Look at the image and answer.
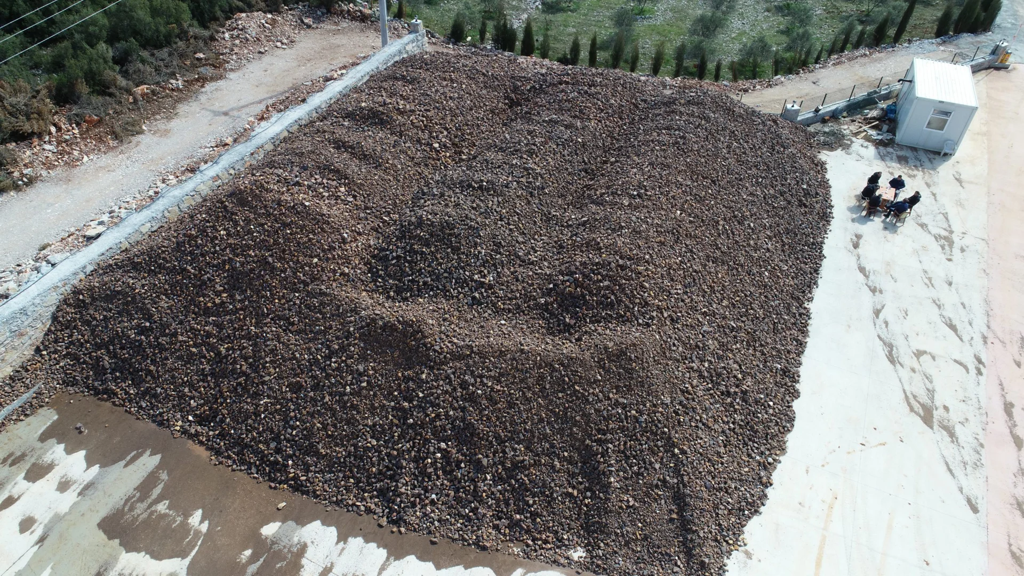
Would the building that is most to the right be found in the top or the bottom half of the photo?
top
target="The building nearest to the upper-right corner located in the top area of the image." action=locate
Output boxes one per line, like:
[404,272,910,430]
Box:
[896,57,978,154]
